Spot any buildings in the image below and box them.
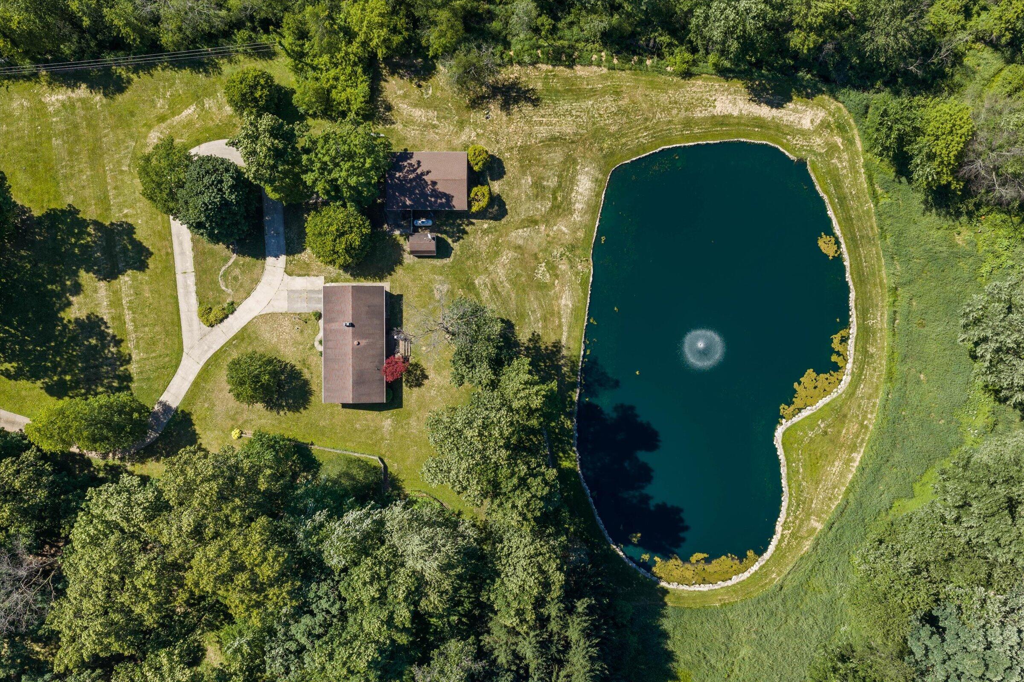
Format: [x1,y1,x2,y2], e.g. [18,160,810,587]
[409,231,438,255]
[384,151,468,210]
[322,285,386,405]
